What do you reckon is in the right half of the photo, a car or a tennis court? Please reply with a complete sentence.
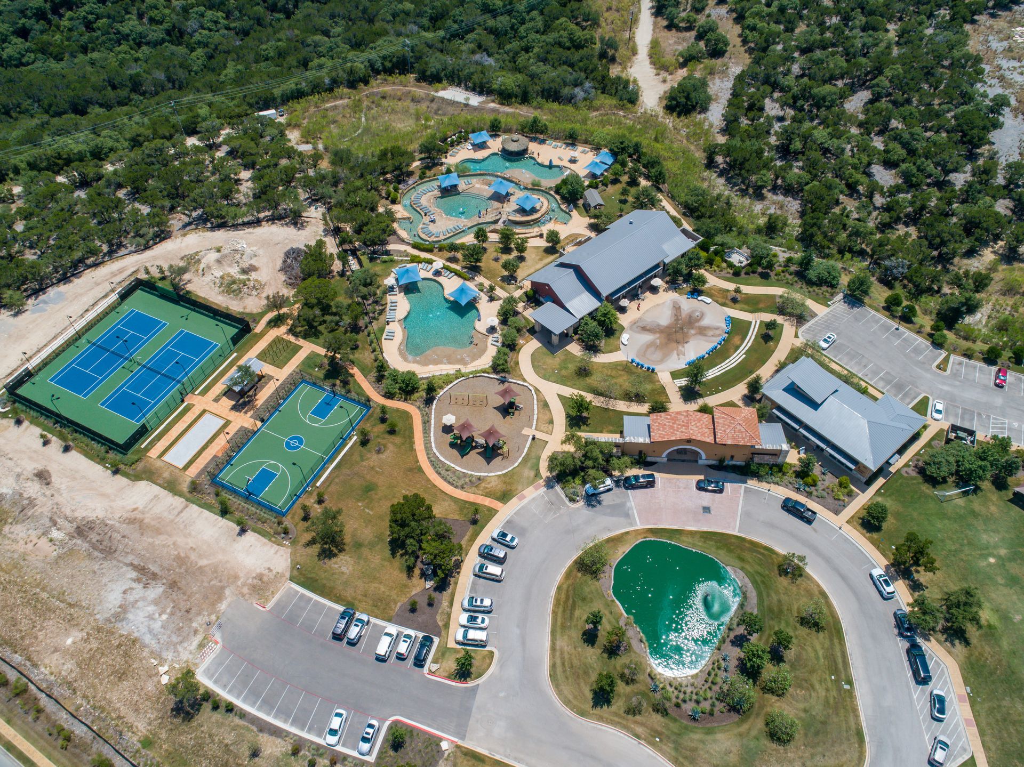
The feature located in the right half of the photo is a car.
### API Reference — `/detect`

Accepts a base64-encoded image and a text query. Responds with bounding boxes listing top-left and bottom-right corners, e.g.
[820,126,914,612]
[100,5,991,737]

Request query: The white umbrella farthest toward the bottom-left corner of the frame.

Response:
[442,414,457,426]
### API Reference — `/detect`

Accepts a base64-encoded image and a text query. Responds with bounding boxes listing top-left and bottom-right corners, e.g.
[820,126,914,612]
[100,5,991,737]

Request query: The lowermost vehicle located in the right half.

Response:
[928,734,952,767]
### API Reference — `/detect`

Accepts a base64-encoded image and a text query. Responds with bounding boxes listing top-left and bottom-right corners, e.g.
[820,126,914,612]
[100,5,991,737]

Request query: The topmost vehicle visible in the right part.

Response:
[822,333,838,350]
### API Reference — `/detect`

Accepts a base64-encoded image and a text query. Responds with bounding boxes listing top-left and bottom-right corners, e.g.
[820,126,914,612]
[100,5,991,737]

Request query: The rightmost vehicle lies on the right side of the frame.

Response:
[994,368,1009,389]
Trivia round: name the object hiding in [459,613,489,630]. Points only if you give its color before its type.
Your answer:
white car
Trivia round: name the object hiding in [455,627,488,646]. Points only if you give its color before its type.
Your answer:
white car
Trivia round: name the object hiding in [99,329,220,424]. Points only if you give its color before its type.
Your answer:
blue tennis court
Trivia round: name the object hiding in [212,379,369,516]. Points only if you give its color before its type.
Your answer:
green basketball court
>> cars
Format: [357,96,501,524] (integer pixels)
[697,479,724,494]
[375,627,399,662]
[994,368,1009,389]
[358,719,380,757]
[459,613,489,630]
[277,106,285,118]
[625,475,655,490]
[463,596,493,612]
[473,563,505,582]
[455,627,488,646]
[871,571,895,600]
[822,333,838,350]
[332,610,355,641]
[932,400,945,421]
[395,629,418,661]
[586,477,613,495]
[928,734,952,767]
[491,530,520,547]
[327,710,348,747]
[346,614,370,646]
[479,545,507,563]
[412,634,435,670]
[893,608,916,639]
[929,689,948,724]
